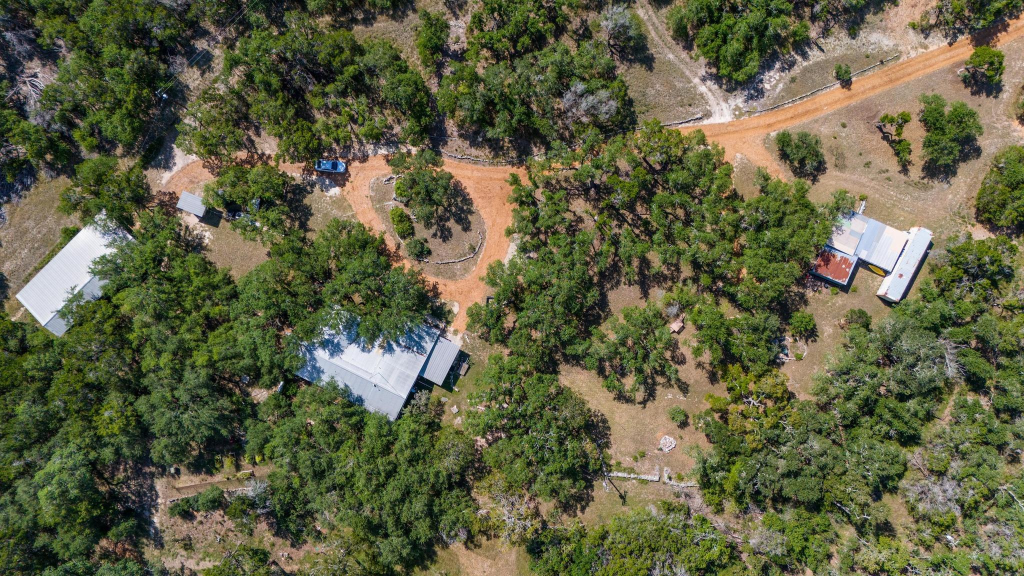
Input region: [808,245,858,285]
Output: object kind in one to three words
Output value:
shed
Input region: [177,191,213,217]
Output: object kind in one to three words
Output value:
shed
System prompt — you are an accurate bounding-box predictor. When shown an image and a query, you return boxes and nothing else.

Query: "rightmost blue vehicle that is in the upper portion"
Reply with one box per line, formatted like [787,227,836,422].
[314,159,345,173]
